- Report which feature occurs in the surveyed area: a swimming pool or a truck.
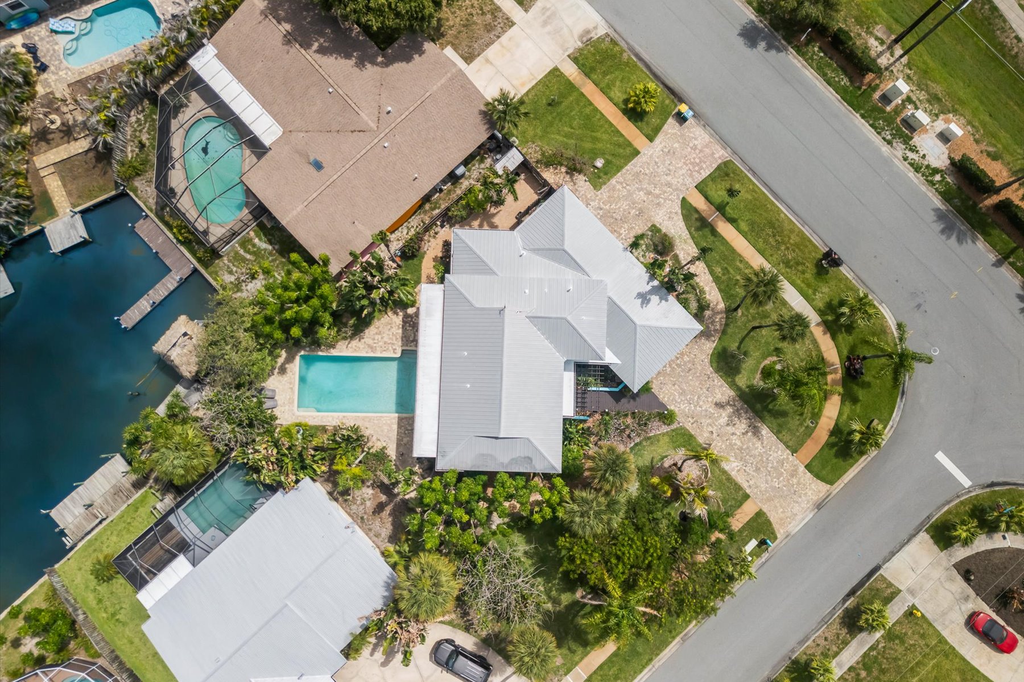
swimming pool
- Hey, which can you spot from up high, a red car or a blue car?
red car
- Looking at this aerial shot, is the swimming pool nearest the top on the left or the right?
left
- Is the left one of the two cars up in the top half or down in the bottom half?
bottom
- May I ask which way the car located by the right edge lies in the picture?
on a diagonal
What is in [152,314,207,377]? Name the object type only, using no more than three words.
shed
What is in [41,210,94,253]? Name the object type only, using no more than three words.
pier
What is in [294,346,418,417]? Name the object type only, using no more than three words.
swimming pool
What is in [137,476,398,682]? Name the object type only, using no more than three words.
house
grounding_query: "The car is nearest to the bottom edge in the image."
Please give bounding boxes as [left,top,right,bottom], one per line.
[431,638,494,682]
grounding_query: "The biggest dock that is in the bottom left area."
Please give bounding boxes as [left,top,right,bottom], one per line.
[46,453,149,544]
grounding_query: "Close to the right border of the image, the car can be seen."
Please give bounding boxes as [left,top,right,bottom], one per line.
[966,608,1020,654]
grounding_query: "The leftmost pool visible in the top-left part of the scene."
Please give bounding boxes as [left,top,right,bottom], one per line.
[54,0,163,69]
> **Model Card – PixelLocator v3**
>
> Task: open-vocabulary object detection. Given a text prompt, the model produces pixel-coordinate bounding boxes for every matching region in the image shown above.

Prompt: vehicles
[966,608,1020,654]
[431,638,494,682]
